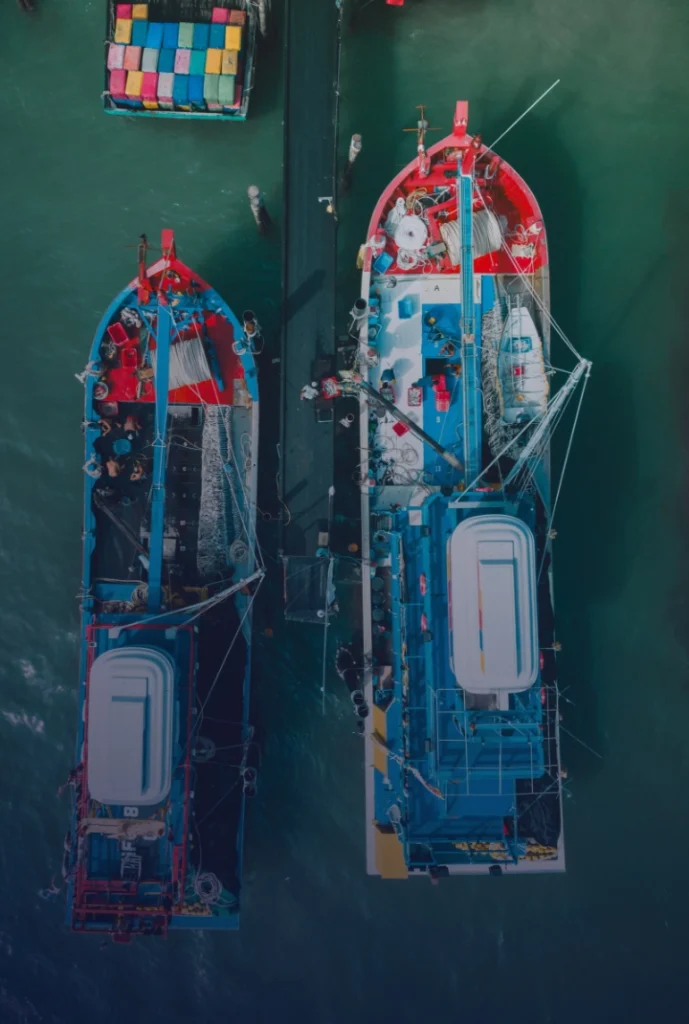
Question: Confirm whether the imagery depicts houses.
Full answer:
No, there appears to be no house in this shot.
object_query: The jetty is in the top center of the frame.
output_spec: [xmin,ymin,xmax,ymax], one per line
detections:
[280,0,345,552]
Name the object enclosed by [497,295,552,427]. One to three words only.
boat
